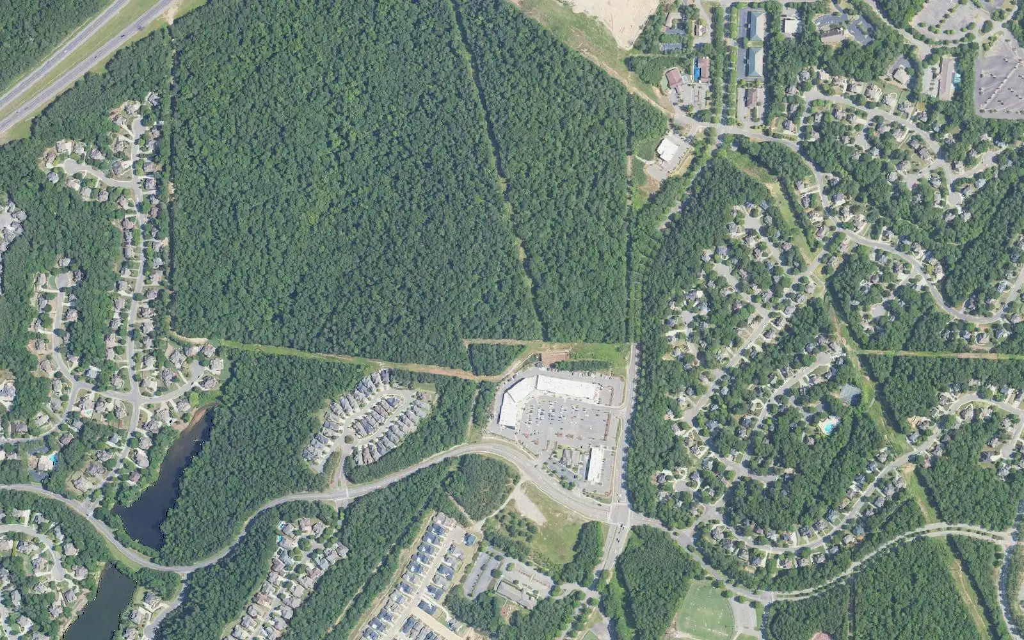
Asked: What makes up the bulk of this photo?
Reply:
trees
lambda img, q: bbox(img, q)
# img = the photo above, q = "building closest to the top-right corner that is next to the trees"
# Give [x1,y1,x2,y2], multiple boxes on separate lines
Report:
[939,57,956,100]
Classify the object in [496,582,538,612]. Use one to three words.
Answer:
building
